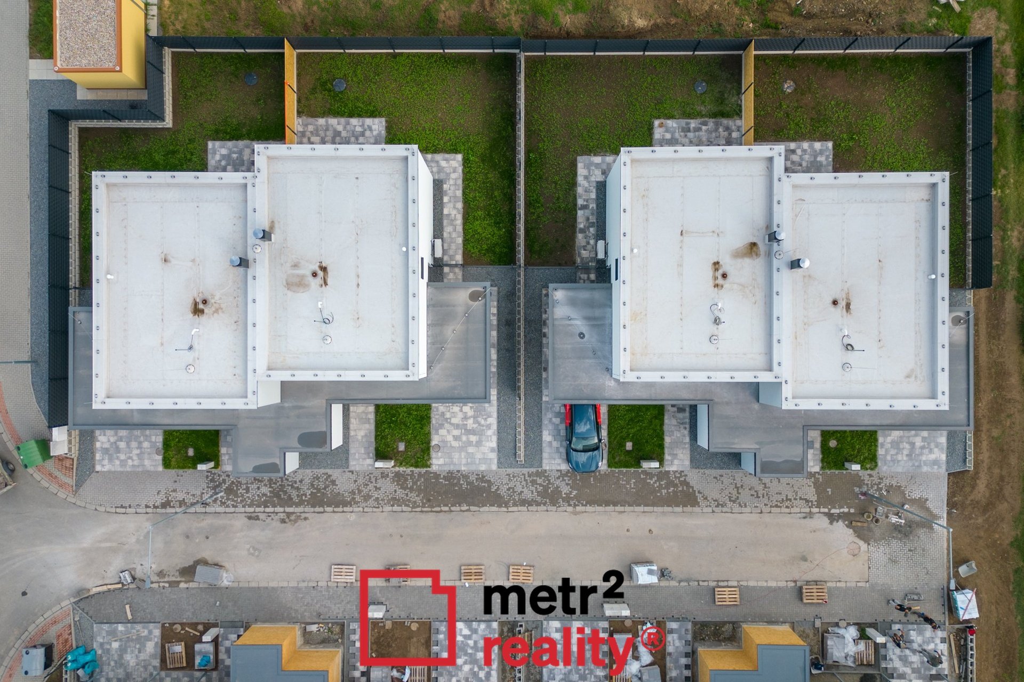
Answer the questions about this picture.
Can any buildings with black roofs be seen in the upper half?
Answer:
No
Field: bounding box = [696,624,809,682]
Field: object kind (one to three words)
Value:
house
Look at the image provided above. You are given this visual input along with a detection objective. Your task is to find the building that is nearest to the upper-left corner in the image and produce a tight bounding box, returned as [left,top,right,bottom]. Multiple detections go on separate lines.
[54,0,147,89]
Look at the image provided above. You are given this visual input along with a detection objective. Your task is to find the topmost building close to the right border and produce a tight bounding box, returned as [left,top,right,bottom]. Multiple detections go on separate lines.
[741,172,975,478]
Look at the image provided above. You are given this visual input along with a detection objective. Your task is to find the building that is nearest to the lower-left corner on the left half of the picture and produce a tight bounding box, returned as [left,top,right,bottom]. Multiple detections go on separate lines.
[231,625,342,682]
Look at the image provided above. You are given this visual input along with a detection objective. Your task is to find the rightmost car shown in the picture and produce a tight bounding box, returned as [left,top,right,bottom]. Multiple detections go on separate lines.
[562,405,606,473]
